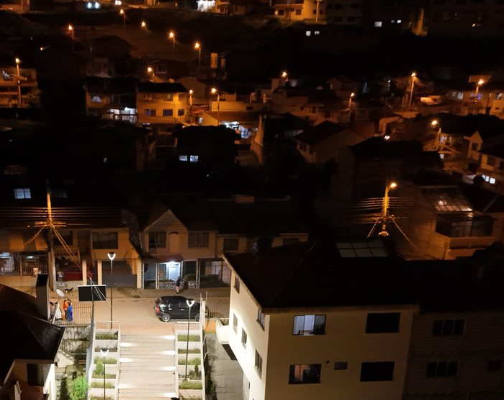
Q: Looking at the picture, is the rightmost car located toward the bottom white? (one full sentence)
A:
No, from above the rightmost car located toward the bottom looks black.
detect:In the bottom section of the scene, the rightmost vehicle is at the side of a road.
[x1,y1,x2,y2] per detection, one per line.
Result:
[153,295,200,318]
